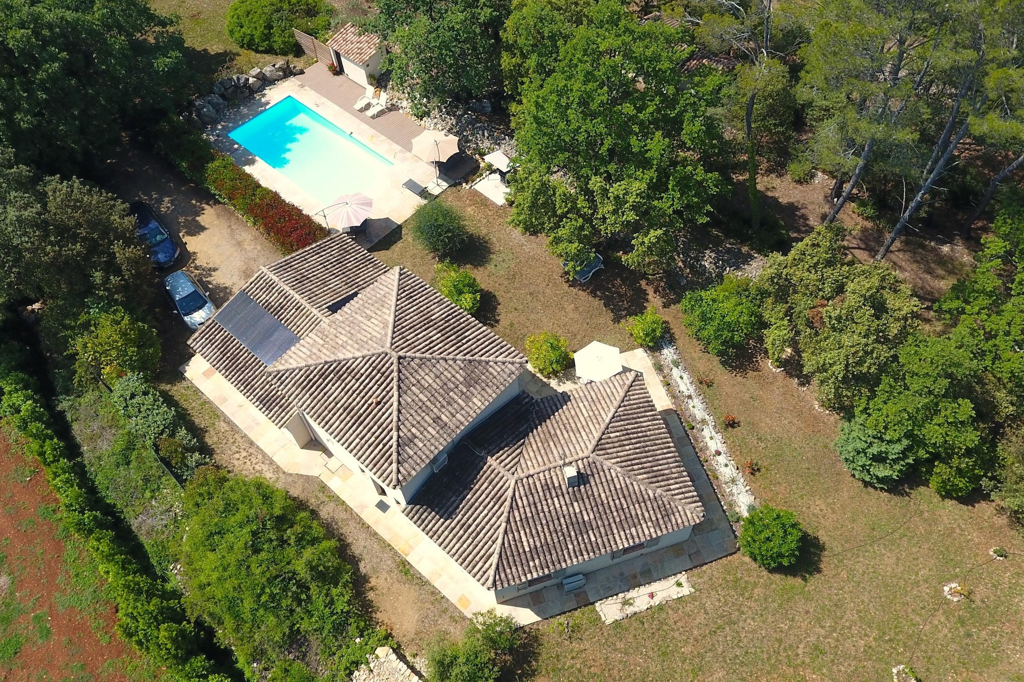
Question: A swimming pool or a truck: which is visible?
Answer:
swimming pool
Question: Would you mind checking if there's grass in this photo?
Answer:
Yes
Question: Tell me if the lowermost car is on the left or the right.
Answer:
left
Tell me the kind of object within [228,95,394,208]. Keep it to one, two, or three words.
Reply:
swimming pool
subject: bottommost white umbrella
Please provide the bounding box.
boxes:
[575,342,622,387]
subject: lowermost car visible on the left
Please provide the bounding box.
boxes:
[158,266,211,330]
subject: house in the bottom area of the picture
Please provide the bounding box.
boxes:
[188,230,706,604]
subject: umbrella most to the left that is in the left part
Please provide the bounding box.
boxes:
[313,195,373,231]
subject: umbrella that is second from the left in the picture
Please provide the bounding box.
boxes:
[410,133,460,190]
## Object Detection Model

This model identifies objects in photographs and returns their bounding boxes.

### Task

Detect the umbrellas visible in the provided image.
[575,342,622,387]
[313,195,373,231]
[410,133,460,190]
